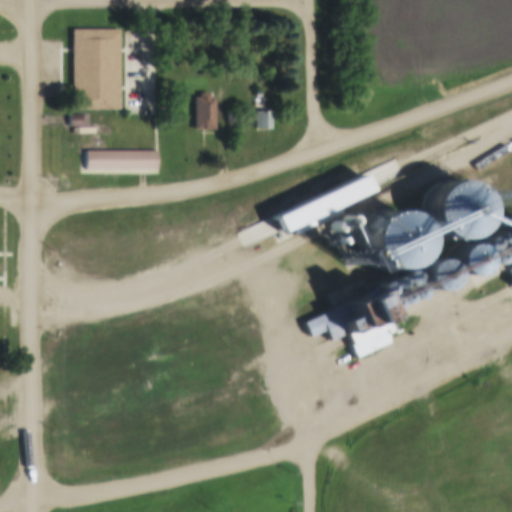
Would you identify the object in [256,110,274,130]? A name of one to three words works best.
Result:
building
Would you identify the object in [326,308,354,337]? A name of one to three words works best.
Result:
shed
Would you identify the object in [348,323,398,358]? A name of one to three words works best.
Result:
building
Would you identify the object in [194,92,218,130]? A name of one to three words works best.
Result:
house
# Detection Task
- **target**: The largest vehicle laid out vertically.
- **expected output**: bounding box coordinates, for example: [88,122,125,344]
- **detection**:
[24,430,36,483]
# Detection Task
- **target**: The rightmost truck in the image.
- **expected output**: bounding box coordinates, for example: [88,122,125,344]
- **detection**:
[474,138,512,168]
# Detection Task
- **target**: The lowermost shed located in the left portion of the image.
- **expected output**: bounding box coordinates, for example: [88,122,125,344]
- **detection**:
[84,150,162,174]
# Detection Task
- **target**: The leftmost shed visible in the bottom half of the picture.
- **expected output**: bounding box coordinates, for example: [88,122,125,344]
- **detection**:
[302,315,330,338]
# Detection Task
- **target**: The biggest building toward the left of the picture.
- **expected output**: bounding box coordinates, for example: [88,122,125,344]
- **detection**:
[73,29,123,110]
